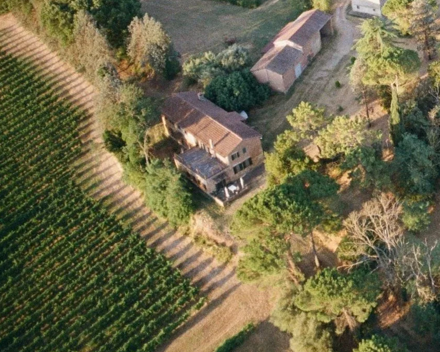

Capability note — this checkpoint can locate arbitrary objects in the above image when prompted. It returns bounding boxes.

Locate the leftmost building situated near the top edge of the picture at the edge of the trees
[255,5,332,92]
